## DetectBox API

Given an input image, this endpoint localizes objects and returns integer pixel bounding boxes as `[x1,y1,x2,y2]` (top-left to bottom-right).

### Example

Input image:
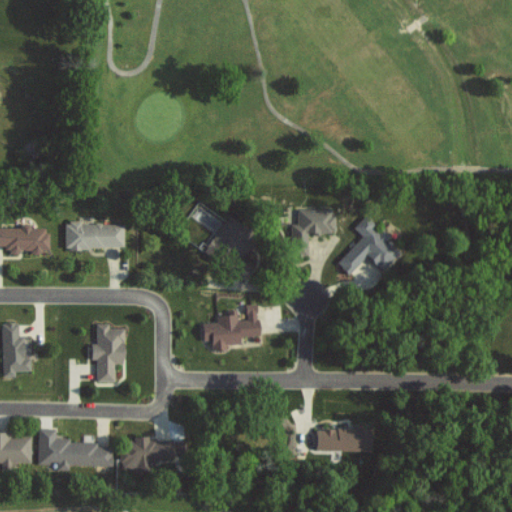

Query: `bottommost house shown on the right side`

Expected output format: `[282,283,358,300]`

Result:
[318,422,374,452]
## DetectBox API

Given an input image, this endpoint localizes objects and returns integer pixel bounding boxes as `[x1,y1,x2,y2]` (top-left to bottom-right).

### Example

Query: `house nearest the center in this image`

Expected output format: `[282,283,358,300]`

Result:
[208,222,264,262]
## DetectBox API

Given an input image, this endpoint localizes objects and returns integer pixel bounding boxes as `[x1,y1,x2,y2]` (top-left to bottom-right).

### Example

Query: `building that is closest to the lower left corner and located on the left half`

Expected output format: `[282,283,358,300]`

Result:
[0,433,32,470]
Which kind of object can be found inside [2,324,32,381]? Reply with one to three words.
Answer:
house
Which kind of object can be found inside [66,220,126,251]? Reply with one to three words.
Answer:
house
